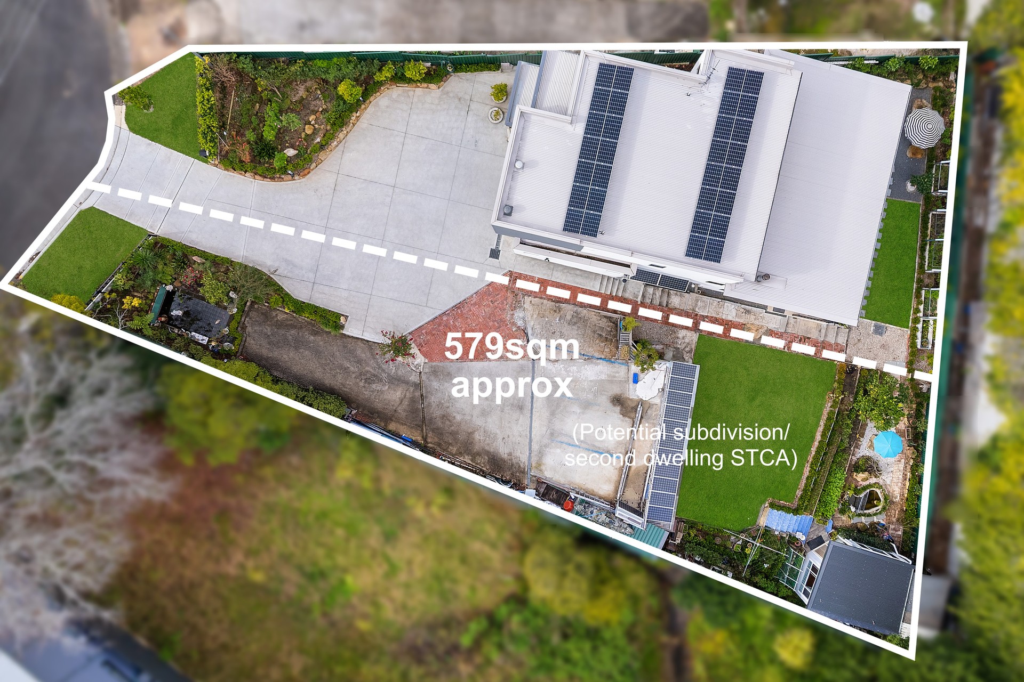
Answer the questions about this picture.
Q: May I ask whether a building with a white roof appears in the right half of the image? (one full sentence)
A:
Yes, a building with a white roof is visible in the right half of the image.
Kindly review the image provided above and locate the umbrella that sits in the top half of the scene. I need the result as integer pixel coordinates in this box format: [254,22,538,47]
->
[905,109,944,148]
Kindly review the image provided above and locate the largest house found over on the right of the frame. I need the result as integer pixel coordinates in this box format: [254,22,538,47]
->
[491,41,914,327]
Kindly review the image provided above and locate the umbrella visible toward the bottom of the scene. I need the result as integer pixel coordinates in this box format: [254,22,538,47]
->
[872,429,903,460]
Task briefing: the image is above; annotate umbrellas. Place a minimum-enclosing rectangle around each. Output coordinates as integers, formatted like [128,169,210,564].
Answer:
[905,109,944,148]
[872,429,903,460]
